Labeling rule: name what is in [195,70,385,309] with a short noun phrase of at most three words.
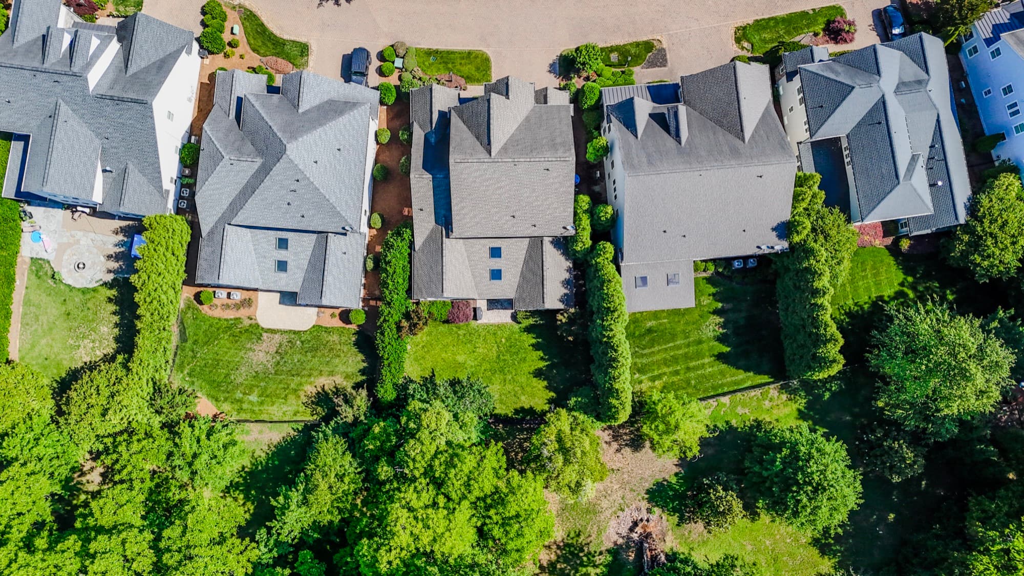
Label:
house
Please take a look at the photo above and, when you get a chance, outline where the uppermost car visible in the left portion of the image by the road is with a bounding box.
[351,46,374,86]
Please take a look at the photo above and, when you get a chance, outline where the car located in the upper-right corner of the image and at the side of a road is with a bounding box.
[878,1,908,46]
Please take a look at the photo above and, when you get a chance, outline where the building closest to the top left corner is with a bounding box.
[0,0,207,218]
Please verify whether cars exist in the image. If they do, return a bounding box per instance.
[878,1,908,46]
[351,46,374,86]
